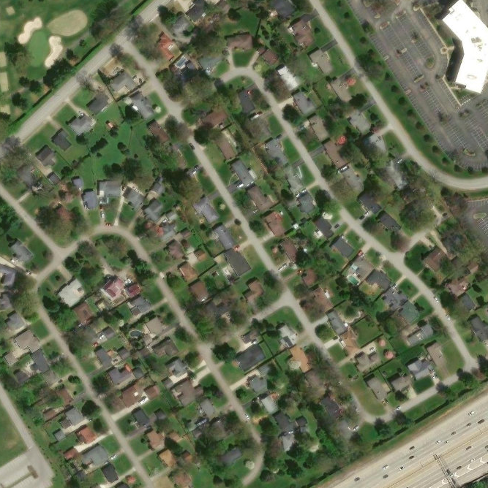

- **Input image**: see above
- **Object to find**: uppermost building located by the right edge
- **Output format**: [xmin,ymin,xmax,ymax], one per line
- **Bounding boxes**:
[439,0,488,96]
